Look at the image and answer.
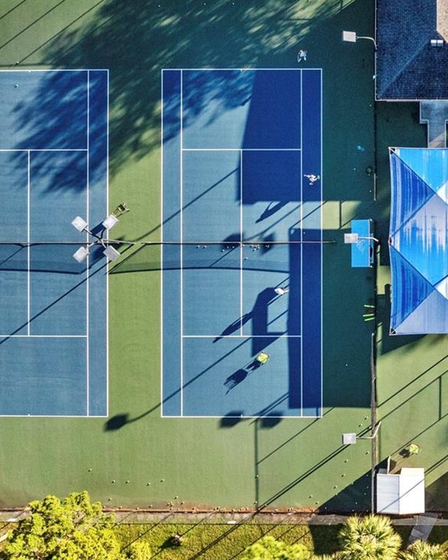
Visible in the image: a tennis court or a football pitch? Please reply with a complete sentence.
There is a tennis court in the scene.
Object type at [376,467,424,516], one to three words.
shed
